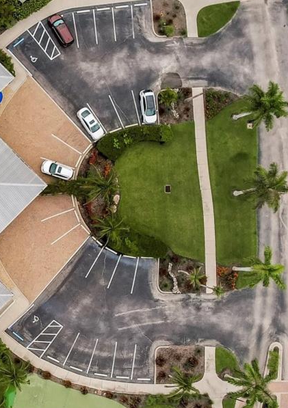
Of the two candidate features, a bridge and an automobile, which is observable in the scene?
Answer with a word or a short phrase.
automobile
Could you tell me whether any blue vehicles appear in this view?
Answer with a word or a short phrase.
No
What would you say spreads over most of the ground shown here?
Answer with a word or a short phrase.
paved ground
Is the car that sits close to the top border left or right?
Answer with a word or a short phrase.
left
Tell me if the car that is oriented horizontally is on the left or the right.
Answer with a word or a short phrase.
left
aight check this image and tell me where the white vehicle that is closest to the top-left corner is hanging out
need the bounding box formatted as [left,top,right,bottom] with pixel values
[78,106,105,140]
